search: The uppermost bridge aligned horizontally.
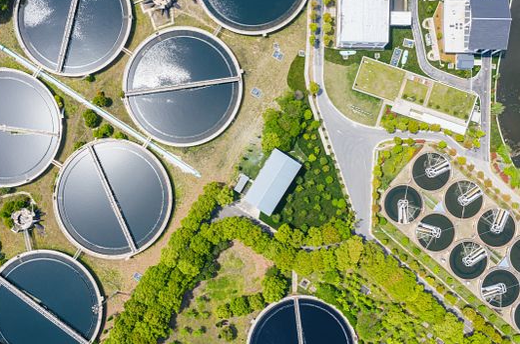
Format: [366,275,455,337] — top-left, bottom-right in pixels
[122,76,243,98]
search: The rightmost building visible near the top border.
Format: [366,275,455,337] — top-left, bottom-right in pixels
[467,0,513,55]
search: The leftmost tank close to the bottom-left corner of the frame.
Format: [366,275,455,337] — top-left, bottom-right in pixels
[0,249,109,344]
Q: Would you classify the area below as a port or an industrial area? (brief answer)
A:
industrial area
